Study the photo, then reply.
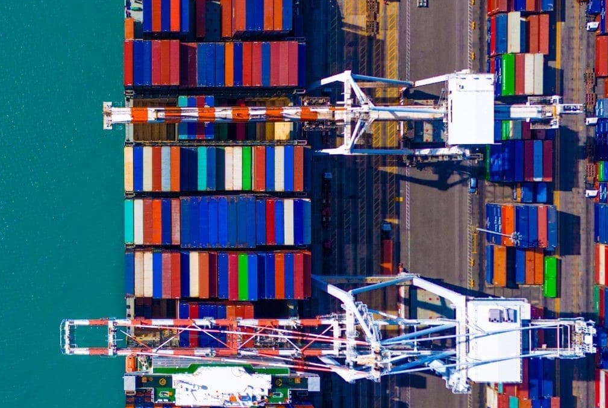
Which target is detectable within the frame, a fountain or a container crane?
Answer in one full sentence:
The image shows a container crane.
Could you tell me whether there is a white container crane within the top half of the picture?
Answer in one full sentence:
Yes, there is a white container crane within the top half of the picture.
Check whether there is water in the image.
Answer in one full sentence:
Yes, some water is visible.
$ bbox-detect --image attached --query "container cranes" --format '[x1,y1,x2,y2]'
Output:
[103,70,582,168]
[57,255,599,394]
